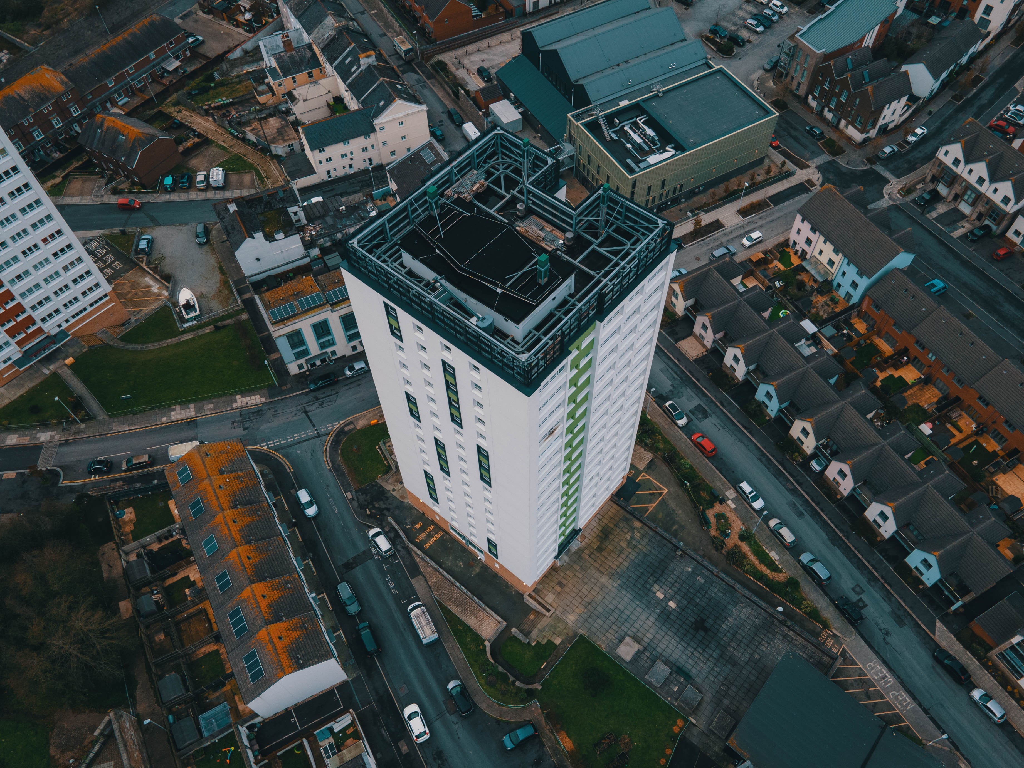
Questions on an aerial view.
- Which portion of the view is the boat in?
left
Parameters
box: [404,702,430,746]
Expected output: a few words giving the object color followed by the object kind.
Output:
white car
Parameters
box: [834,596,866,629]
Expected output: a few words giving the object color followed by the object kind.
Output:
black car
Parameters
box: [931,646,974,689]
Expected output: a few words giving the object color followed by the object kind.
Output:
black car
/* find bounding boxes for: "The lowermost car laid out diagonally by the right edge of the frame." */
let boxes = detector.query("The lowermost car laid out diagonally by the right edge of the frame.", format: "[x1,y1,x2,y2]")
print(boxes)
[967,687,1008,727]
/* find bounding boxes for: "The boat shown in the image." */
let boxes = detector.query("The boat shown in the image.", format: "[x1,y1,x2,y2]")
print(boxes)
[177,284,199,321]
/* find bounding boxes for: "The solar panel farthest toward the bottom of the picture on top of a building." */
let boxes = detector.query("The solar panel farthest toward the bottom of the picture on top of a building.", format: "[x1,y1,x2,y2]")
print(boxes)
[241,649,264,686]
